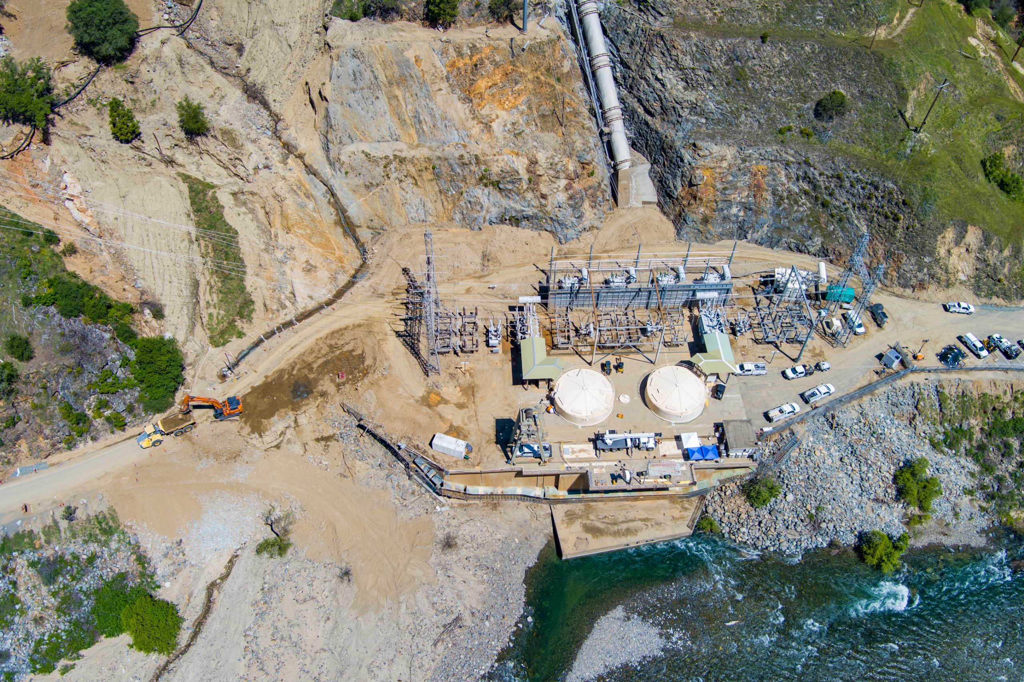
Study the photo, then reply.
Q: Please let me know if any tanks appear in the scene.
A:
Yes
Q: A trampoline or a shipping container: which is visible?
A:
shipping container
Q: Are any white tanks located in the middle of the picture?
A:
Yes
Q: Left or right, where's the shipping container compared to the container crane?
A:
to its left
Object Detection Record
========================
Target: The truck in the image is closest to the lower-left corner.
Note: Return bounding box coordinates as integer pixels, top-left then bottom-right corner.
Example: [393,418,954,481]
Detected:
[137,412,197,449]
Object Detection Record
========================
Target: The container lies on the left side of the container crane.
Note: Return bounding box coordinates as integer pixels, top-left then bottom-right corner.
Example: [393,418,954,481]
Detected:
[431,431,475,464]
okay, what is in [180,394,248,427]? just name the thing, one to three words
work vehicle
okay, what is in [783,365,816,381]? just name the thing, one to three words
vehicle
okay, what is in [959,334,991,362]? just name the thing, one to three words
truck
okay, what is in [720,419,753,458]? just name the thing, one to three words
building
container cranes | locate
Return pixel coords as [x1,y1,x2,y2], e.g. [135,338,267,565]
[508,404,548,463]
